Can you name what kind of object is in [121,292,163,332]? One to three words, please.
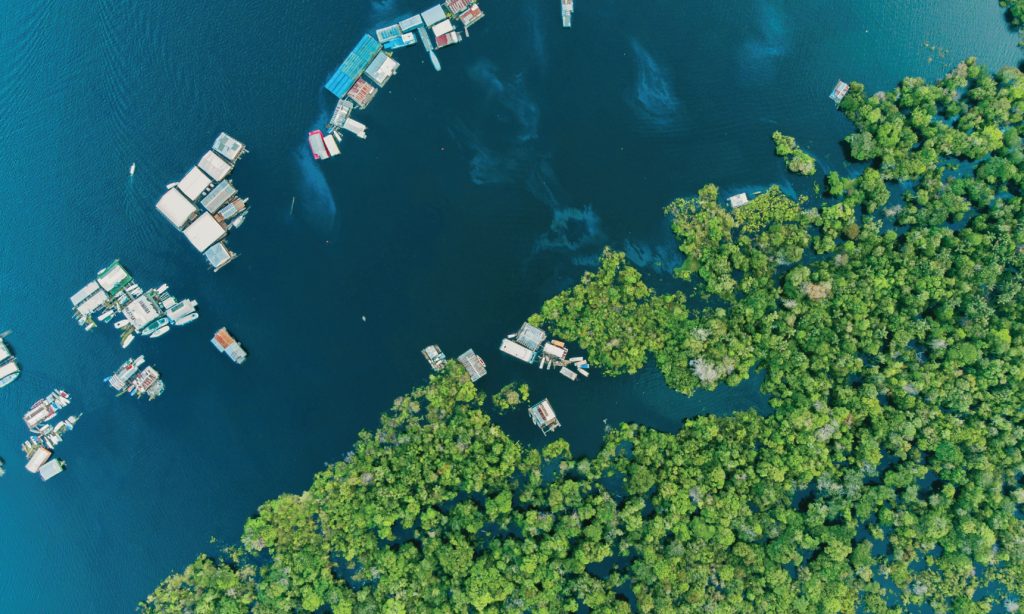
building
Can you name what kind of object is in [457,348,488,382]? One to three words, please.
house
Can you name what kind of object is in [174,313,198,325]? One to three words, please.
boat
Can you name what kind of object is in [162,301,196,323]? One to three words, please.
boat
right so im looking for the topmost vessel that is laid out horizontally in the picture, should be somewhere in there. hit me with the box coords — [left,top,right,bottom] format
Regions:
[383,34,418,47]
